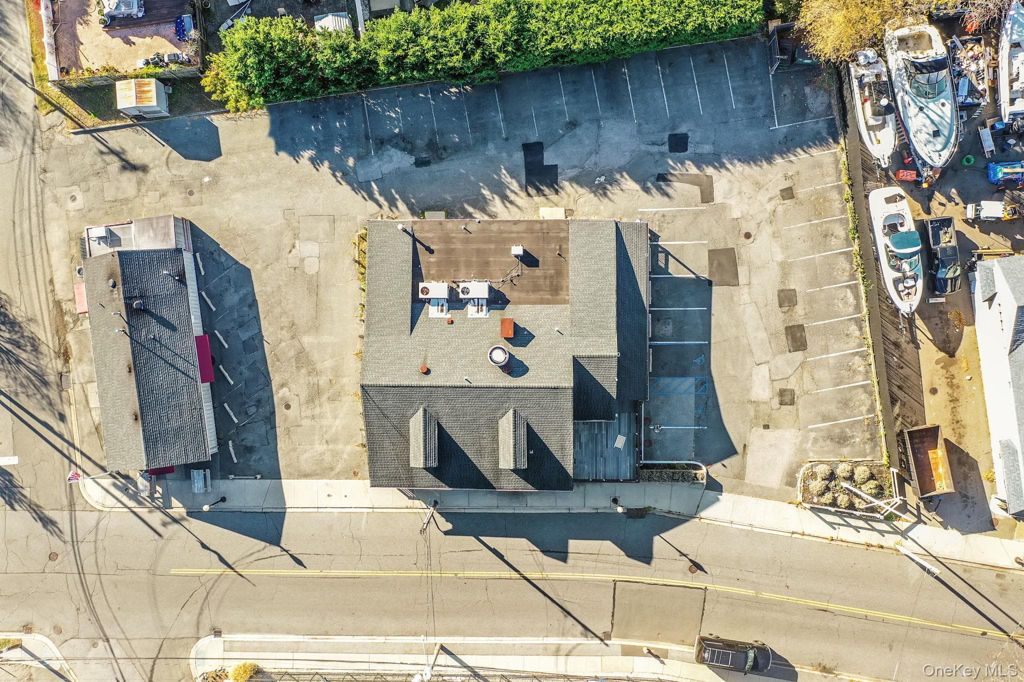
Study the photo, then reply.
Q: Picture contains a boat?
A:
Yes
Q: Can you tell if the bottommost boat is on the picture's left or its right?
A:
right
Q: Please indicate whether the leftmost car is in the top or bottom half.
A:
bottom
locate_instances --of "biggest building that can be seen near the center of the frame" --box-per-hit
[360,218,651,492]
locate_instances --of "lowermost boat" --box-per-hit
[868,187,925,330]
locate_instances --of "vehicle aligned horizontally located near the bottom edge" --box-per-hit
[691,634,772,674]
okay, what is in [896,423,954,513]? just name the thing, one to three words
trailer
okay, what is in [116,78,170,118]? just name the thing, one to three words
shed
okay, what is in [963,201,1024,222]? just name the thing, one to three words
work vehicle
